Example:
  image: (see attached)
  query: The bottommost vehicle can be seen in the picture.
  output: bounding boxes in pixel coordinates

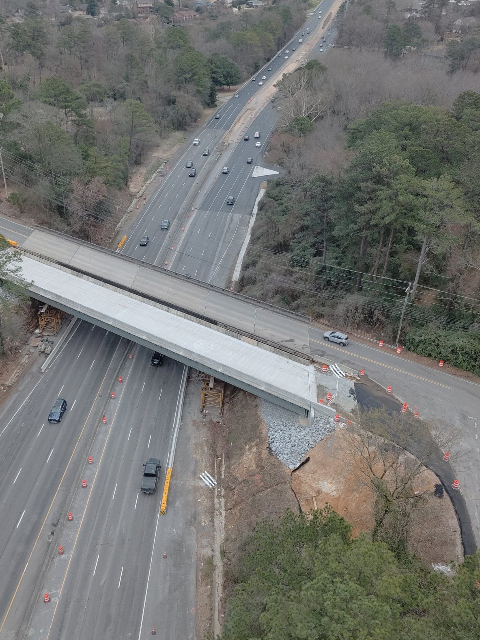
[141,458,160,492]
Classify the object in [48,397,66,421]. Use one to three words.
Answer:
car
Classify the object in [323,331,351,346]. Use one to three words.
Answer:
car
